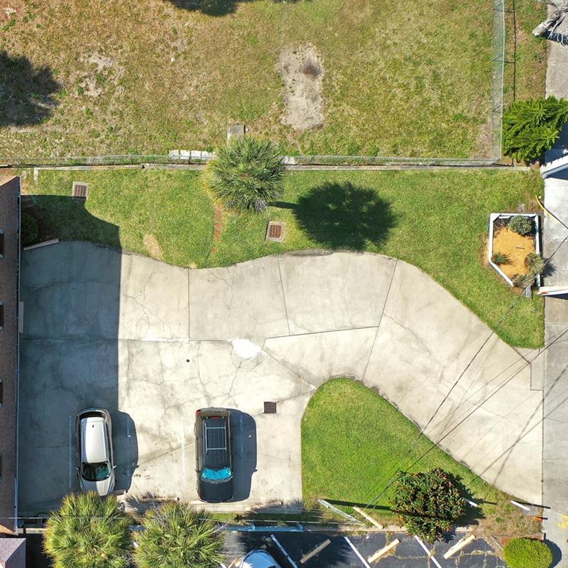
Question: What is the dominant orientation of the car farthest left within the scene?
vertically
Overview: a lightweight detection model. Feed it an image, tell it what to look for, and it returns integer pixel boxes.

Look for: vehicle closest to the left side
[74,409,117,494]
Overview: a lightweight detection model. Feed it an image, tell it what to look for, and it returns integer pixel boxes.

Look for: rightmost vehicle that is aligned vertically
[191,404,239,501]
